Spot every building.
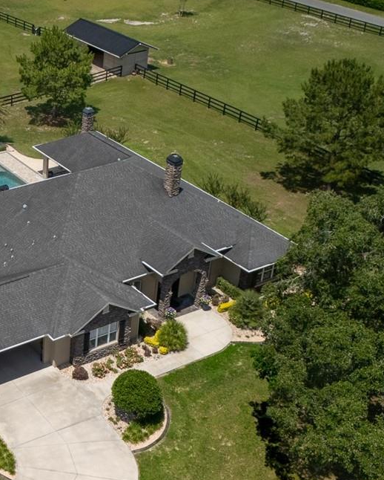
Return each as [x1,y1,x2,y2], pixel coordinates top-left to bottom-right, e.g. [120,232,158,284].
[73,23,159,77]
[0,104,307,372]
